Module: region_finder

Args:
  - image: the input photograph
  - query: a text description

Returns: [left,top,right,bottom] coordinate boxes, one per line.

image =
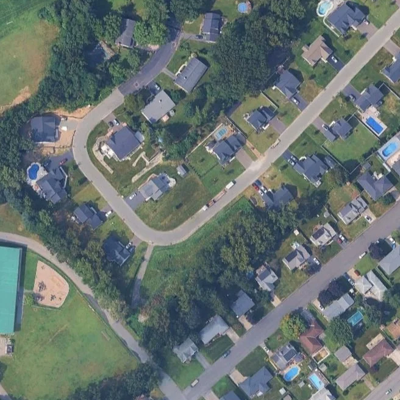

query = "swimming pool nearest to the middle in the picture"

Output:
[211,121,235,141]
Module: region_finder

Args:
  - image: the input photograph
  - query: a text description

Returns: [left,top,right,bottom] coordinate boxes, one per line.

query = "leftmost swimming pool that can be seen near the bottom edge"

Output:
[281,363,302,383]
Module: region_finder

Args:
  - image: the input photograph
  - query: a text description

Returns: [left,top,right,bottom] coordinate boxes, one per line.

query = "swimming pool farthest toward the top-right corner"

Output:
[314,0,341,18]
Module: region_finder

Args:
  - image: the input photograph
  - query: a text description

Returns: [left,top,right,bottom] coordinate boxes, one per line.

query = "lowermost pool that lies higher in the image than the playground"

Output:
[24,158,50,183]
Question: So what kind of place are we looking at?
residential area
